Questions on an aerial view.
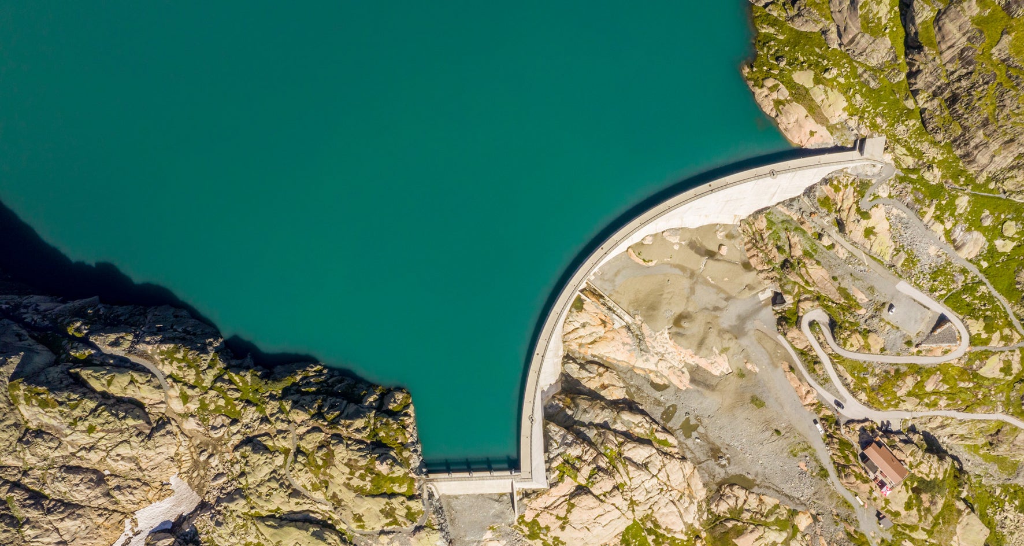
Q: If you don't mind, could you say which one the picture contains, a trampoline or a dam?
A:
dam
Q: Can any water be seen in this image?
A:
Yes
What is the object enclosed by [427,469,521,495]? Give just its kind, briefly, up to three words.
dam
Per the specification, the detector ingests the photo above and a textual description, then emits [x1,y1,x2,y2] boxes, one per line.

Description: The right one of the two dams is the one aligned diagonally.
[514,150,867,487]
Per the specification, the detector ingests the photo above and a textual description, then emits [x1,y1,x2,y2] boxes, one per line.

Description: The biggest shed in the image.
[864,437,909,491]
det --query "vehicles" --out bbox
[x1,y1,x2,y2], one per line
[880,421,887,432]
[834,400,845,410]
[889,305,897,315]
[815,423,826,434]
[886,421,893,432]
